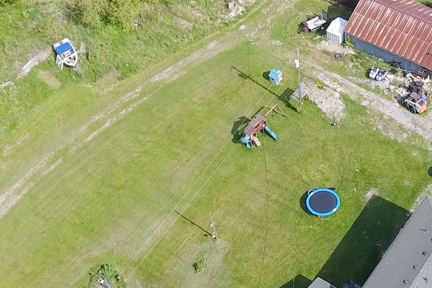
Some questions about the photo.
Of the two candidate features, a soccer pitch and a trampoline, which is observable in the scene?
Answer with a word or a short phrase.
trampoline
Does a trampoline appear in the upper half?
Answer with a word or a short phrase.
No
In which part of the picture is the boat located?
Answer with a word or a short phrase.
top left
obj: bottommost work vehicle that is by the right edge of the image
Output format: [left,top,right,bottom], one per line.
[399,92,429,113]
